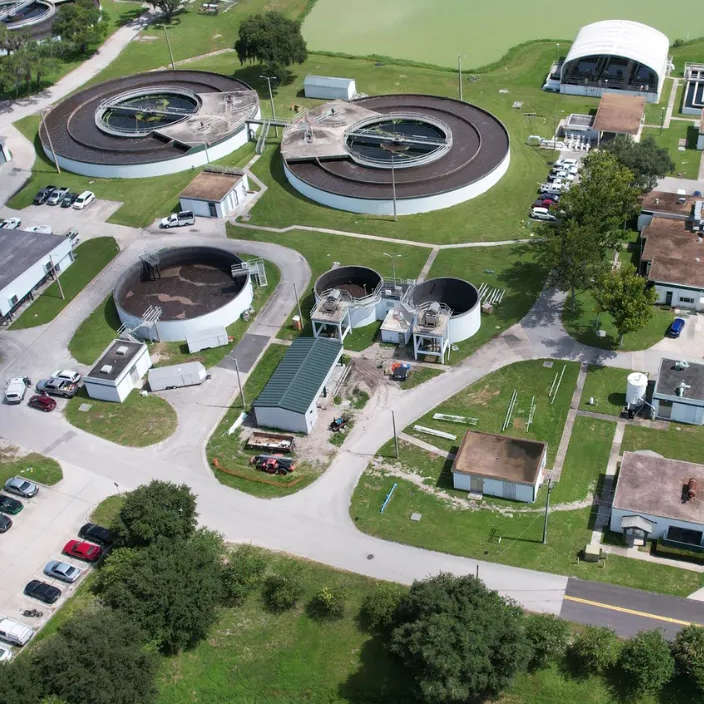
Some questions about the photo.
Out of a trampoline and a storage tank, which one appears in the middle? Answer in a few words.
storage tank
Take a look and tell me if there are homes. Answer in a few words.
Yes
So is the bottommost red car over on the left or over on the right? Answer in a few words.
left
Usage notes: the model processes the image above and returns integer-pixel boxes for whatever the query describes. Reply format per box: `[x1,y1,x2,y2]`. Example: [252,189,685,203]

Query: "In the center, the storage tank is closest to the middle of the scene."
[309,266,386,347]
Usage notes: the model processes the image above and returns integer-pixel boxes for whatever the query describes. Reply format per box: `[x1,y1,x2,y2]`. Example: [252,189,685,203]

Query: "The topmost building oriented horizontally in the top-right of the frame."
[515,114,619,159]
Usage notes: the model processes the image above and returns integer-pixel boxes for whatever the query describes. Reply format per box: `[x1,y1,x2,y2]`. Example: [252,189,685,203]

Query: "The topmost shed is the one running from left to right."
[303,76,352,100]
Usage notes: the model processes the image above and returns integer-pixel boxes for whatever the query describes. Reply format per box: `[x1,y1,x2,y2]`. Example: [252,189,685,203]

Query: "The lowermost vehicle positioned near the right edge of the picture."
[665,311,687,337]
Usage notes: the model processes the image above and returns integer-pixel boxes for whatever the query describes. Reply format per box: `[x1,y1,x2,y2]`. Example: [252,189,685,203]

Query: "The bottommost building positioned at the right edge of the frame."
[611,450,704,552]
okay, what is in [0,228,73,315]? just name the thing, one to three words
building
